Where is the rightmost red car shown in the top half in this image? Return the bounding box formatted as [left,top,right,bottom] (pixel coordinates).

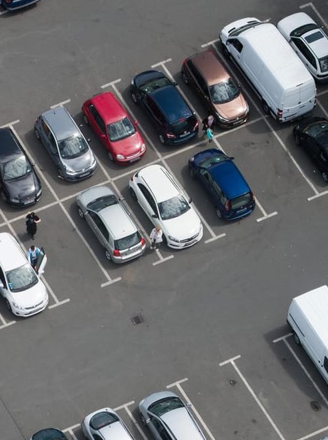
[82,92,146,167]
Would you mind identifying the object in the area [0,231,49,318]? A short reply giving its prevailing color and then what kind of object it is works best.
white car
